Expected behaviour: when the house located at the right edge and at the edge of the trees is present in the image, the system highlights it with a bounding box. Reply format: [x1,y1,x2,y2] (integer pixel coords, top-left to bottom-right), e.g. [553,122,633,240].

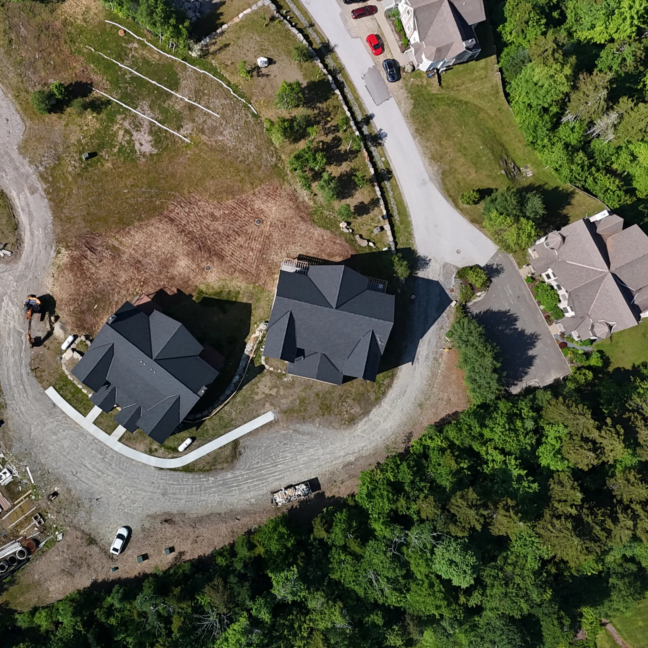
[519,210,648,340]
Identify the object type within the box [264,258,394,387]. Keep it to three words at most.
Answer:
house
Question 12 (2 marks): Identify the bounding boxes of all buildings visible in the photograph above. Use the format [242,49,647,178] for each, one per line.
[264,258,394,387]
[380,0,486,73]
[519,210,648,340]
[71,292,226,444]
